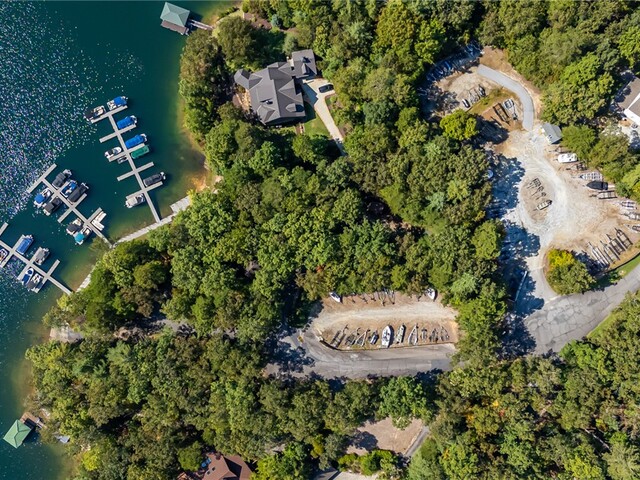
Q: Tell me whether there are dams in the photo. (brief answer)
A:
No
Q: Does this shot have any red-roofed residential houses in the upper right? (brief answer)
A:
No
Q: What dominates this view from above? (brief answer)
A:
trees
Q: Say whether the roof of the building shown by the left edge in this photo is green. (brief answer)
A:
Yes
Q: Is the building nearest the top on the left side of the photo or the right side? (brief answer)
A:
left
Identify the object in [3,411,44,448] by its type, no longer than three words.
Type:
building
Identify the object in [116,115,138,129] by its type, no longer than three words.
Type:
boat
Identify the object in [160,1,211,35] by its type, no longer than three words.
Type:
building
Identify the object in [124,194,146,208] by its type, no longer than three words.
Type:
boat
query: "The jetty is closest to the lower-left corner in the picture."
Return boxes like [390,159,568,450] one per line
[0,222,73,297]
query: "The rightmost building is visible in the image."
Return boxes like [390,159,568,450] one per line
[611,78,640,124]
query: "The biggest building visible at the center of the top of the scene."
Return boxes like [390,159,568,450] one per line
[232,54,318,131]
